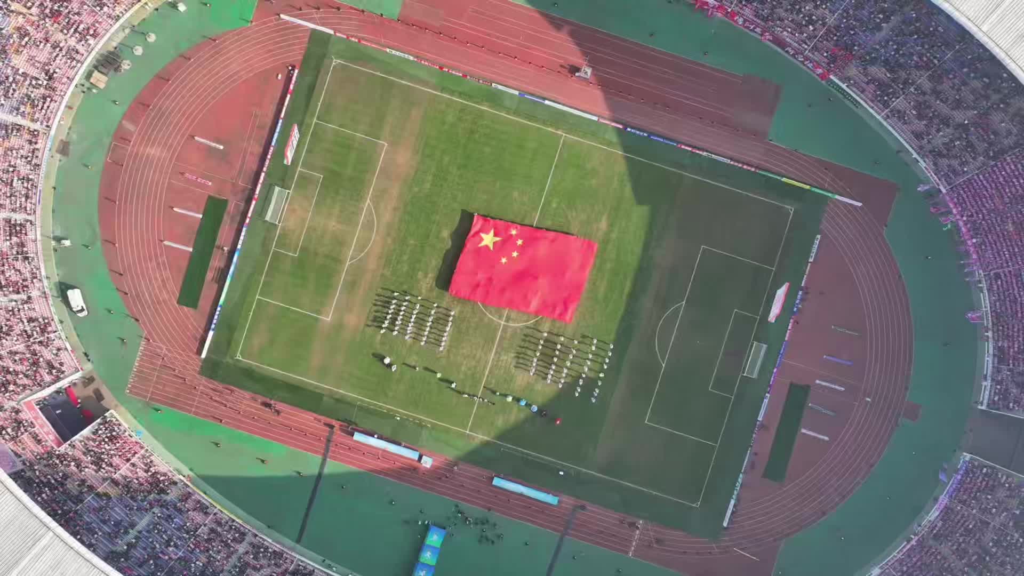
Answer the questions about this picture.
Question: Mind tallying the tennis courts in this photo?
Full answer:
The photo contains no tennis courts.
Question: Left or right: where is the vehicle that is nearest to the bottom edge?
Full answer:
It is on the left.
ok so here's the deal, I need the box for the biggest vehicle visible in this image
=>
[66,290,87,315]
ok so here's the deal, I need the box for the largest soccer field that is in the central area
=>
[200,29,827,539]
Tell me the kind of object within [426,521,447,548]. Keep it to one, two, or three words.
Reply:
tent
